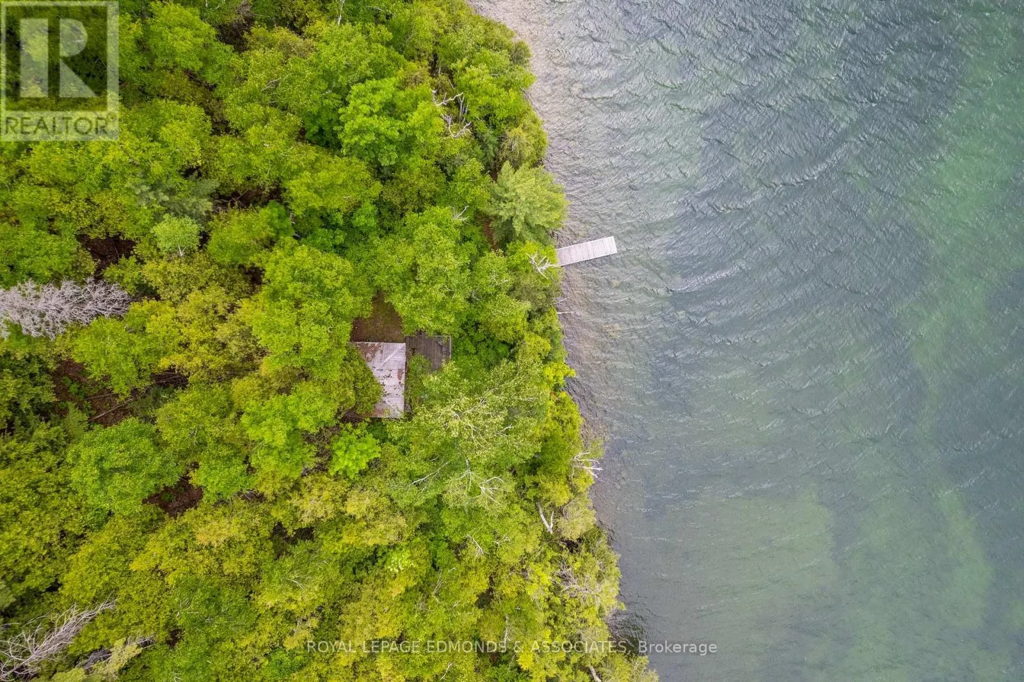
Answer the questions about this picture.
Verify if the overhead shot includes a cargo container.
No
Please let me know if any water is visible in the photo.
Yes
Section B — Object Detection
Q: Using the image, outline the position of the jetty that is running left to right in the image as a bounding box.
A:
[548,236,618,267]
